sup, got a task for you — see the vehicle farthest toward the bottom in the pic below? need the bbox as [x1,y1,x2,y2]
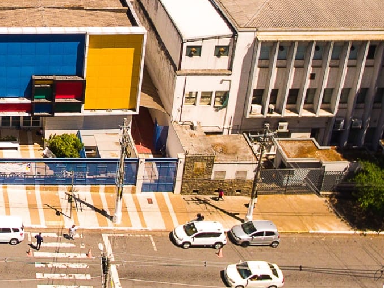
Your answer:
[223,259,288,288]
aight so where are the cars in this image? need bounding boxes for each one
[223,259,288,288]
[172,217,230,246]
[229,219,284,245]
[0,213,25,242]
